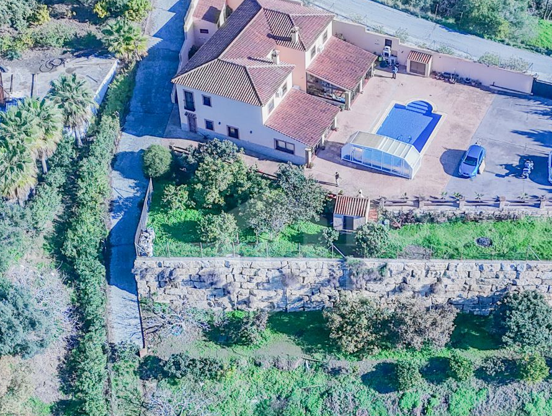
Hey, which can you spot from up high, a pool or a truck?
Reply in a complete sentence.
The image shows a pool.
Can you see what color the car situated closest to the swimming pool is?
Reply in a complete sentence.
The color of the car situated closest to the swimming pool is blue.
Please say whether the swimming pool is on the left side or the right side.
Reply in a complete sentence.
The swimming pool sits on the right side.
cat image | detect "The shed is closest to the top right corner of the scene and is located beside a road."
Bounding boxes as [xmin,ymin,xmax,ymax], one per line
[406,48,431,74]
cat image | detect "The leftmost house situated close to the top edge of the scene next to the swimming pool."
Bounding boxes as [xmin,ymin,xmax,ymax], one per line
[166,0,378,164]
